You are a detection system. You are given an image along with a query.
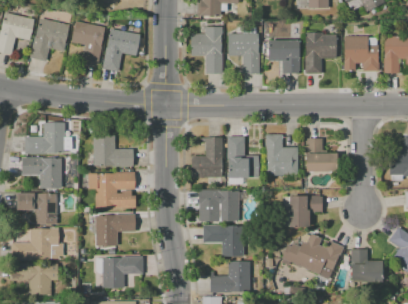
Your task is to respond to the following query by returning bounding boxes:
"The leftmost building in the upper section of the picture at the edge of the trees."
[0,11,32,60]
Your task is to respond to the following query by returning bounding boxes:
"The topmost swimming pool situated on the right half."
[310,174,332,186]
